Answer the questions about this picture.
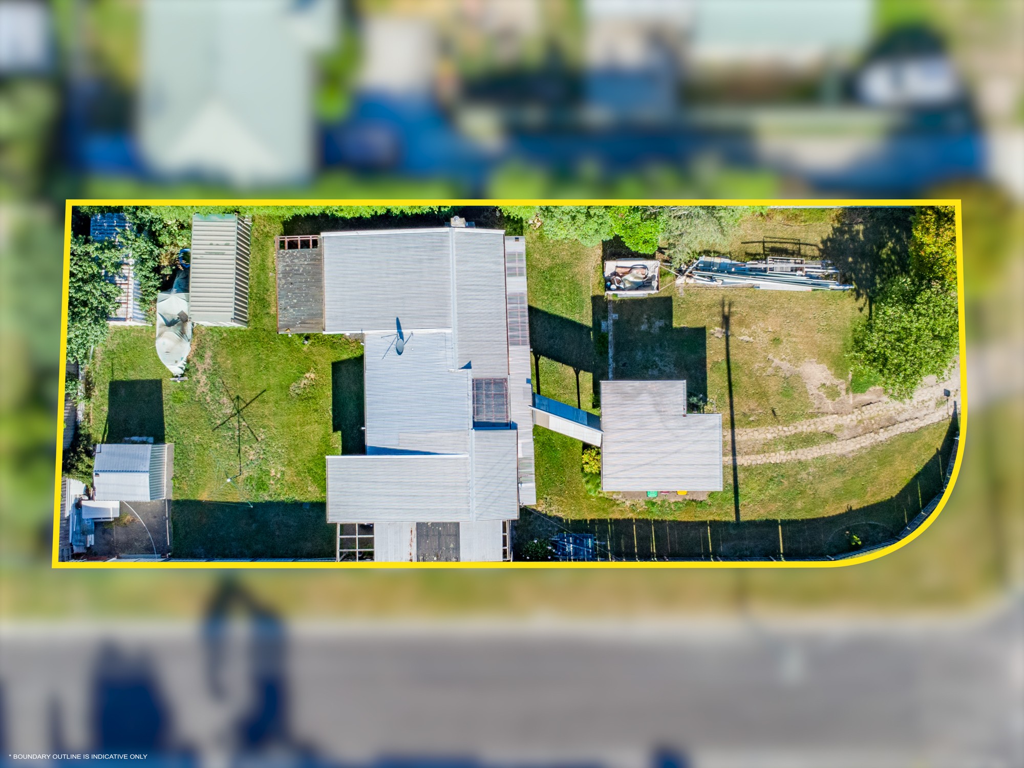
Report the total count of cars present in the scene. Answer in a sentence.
Looking from above, you can make out 2 cars.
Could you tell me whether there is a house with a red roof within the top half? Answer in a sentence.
No, within the top half there is no house with a red roof.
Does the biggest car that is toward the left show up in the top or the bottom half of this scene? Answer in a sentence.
The biggest car that is toward the left sits in the top half of the picture.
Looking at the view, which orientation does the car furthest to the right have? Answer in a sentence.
The car furthest to the right runs from left to right in the image.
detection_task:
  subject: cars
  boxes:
[859,60,962,107]
[336,126,409,171]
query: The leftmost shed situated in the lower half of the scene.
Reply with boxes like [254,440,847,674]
[93,443,167,501]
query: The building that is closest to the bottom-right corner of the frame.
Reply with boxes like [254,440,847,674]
[598,380,723,492]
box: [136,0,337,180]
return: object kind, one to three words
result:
house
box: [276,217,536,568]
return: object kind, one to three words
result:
house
